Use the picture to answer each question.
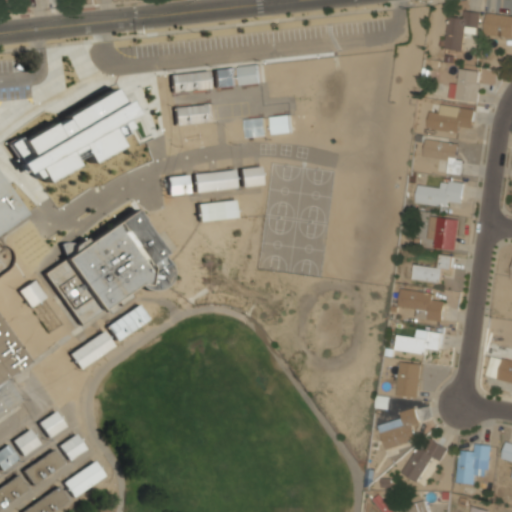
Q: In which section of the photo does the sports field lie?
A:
bottom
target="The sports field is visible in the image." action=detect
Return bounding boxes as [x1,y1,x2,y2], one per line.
[97,314,354,512]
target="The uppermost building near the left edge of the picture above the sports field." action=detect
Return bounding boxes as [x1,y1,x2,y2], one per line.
[10,89,144,182]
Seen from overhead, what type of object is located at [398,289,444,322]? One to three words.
house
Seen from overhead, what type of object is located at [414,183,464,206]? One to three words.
house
